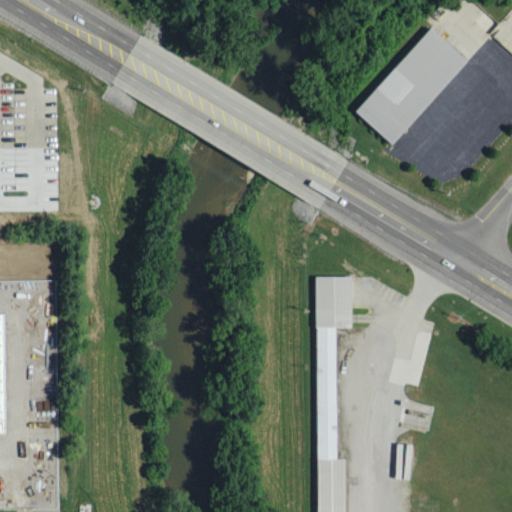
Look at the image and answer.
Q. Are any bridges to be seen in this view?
Yes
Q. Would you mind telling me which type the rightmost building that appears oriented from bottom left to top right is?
warehouse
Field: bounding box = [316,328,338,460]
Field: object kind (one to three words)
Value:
barn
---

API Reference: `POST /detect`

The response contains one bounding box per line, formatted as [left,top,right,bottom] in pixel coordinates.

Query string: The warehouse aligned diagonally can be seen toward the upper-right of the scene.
[356,27,468,144]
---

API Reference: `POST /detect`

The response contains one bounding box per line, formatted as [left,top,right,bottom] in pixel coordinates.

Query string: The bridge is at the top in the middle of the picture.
[112,36,349,209]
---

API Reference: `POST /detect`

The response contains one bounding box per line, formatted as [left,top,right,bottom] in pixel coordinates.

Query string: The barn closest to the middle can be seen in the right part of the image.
[316,277,354,328]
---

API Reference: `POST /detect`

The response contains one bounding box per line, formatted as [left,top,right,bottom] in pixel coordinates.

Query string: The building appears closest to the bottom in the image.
[317,460,347,512]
